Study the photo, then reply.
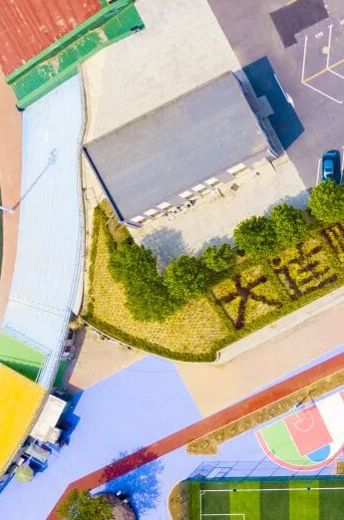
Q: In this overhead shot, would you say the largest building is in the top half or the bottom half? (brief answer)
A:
top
